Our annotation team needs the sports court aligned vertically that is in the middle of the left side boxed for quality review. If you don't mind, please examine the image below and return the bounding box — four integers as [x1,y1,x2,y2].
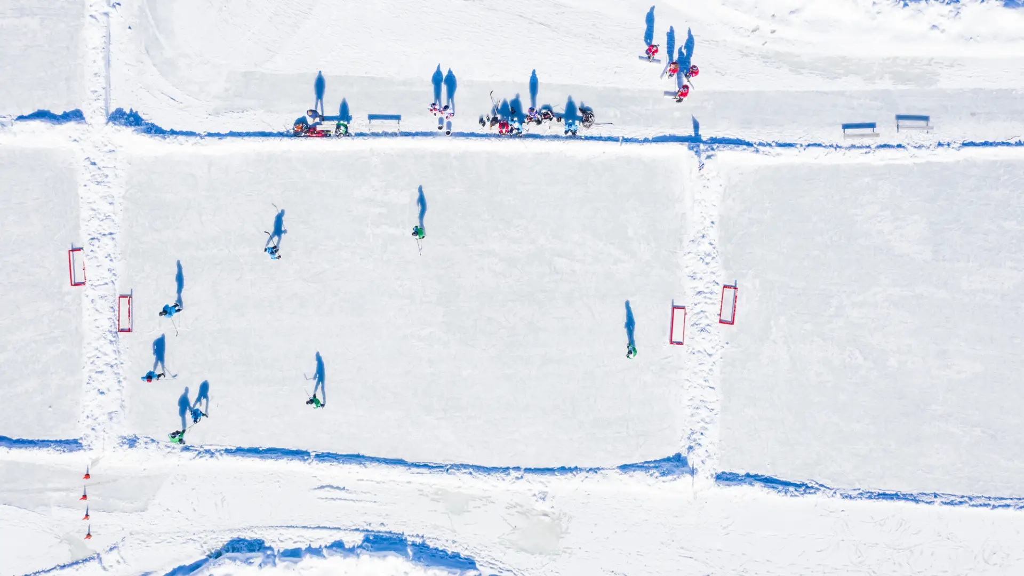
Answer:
[0,146,85,443]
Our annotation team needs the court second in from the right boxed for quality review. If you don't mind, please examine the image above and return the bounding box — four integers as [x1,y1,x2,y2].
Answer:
[116,152,695,468]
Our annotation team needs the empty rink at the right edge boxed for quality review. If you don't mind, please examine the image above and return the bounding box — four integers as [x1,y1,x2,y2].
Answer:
[716,159,1024,500]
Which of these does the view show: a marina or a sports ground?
sports ground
